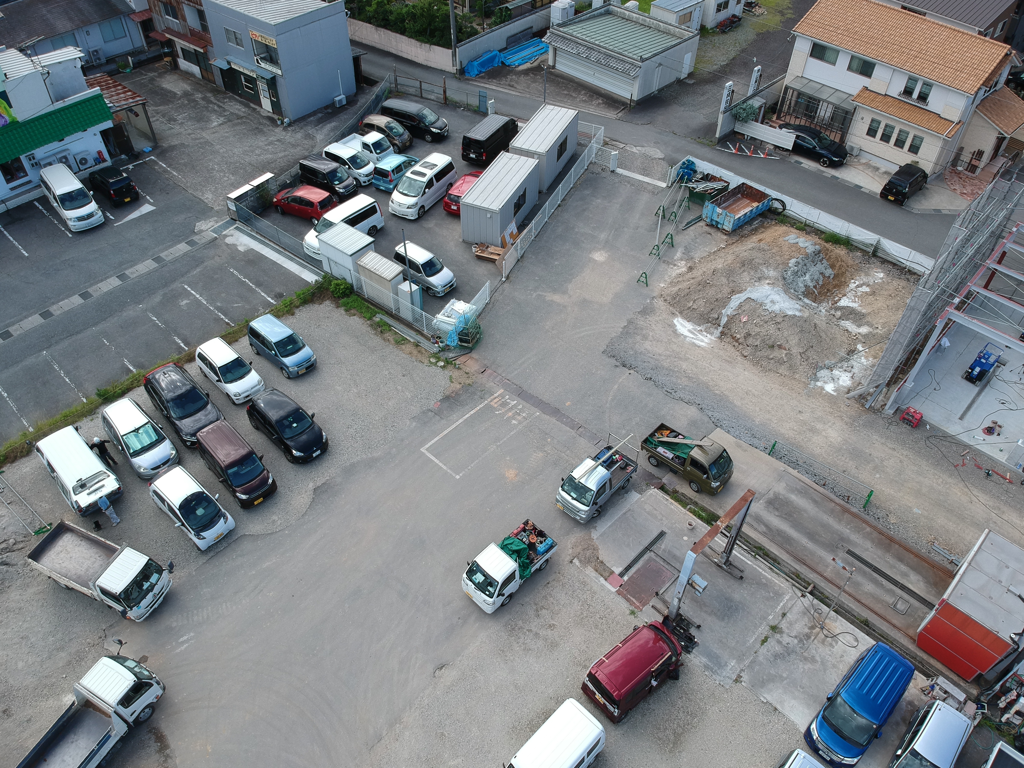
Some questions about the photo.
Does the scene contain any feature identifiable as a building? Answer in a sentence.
Yes, the image includes a building.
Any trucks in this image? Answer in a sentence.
Yes, a truck is visible in the scene.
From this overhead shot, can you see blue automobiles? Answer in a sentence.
Yes, there is a blue automobile in the image.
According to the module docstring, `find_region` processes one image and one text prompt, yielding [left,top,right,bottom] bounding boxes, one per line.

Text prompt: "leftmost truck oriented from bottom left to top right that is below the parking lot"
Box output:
[6,644,168,768]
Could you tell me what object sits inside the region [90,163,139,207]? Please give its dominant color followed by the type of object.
black car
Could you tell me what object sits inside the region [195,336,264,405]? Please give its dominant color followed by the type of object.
white car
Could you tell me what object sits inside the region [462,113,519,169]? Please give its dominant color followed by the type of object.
black van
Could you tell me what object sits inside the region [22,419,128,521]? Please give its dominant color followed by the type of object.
white van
